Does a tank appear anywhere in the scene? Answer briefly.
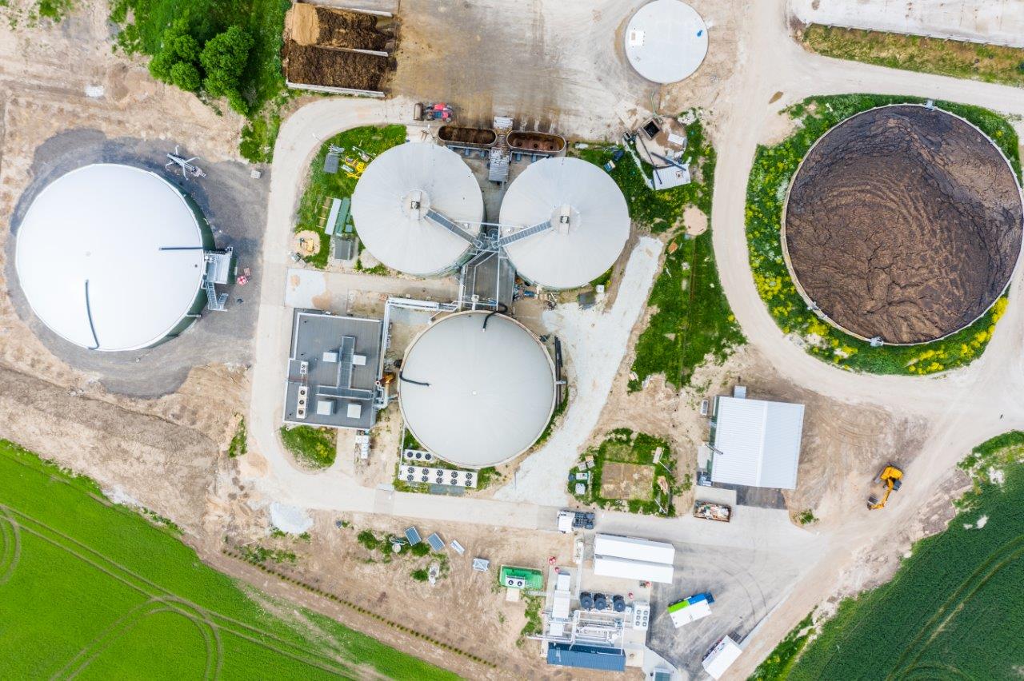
Yes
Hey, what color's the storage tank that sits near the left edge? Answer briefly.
white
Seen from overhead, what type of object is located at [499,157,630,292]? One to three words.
storage tank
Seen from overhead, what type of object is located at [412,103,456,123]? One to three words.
work vehicle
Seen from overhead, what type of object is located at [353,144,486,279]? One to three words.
storage tank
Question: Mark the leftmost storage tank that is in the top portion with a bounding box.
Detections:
[15,162,214,352]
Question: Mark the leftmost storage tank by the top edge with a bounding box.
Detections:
[623,0,708,85]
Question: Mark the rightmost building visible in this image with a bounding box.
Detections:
[704,386,806,489]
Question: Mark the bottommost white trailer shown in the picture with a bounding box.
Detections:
[700,627,743,681]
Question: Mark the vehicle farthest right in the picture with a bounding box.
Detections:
[867,463,907,509]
